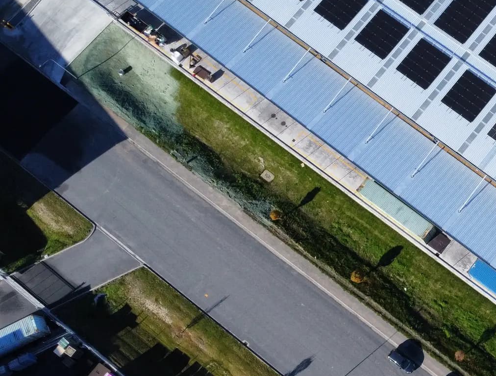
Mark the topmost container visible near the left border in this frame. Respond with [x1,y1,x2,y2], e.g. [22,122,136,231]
[0,315,48,355]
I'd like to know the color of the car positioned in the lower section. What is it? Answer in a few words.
black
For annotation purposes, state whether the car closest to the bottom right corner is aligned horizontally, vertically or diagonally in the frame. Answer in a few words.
diagonally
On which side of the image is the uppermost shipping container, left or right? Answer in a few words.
right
